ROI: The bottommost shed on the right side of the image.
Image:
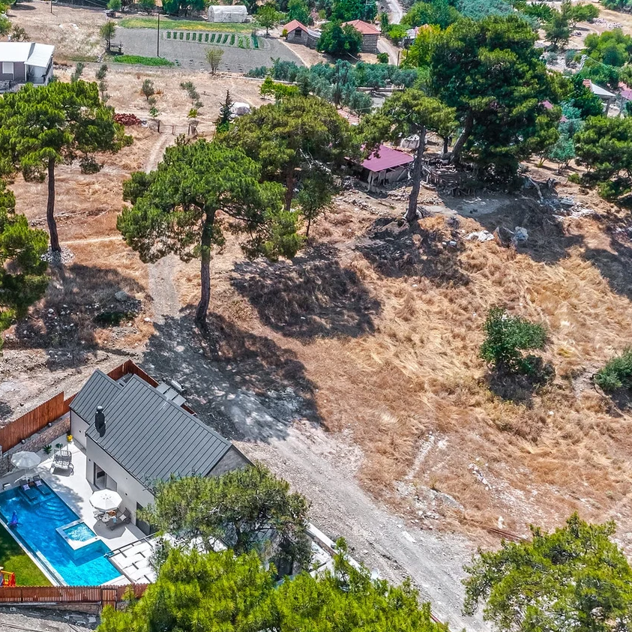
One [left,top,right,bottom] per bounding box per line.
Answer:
[356,145,414,198]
